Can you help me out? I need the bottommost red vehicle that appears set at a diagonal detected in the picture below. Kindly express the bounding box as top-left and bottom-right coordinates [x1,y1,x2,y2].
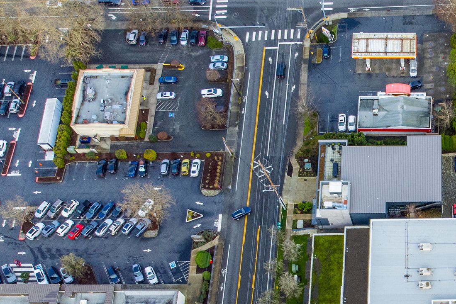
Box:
[67,222,85,241]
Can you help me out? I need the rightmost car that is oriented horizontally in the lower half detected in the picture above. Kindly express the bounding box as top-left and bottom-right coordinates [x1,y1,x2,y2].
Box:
[231,208,252,220]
